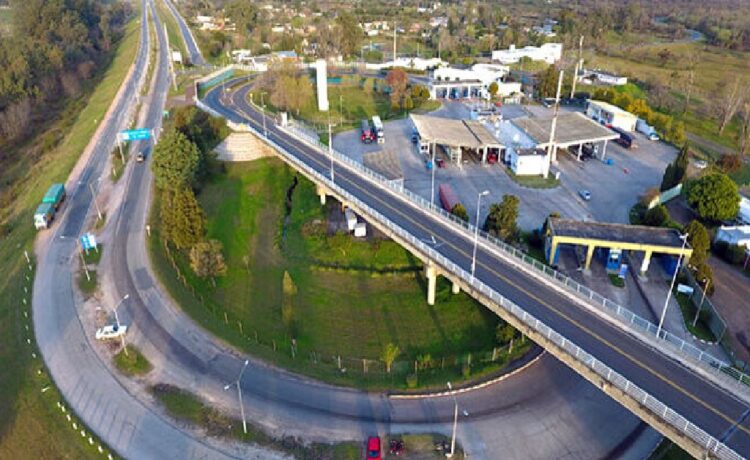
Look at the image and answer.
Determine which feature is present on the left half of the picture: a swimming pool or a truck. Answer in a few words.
truck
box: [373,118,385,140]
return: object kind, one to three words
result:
vehicle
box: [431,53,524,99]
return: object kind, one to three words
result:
building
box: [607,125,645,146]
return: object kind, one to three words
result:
truck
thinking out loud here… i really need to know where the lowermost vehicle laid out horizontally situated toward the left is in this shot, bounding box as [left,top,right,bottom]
[92,324,128,339]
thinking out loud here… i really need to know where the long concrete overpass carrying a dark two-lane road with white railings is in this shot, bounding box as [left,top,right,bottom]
[198,116,750,460]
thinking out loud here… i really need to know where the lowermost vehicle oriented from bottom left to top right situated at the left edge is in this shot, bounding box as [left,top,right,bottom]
[25,174,64,229]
